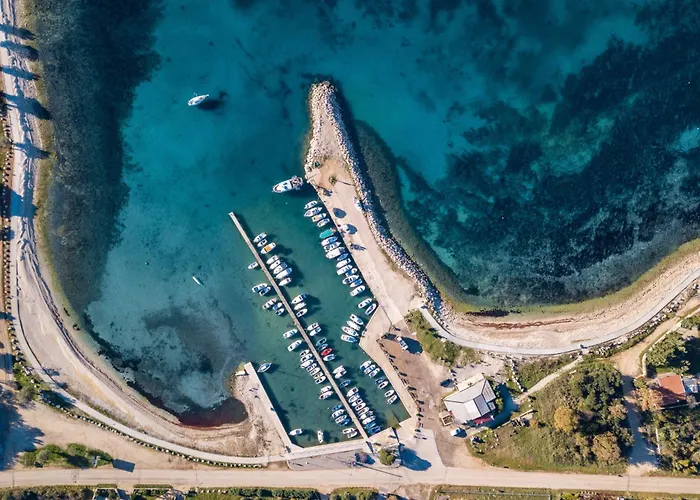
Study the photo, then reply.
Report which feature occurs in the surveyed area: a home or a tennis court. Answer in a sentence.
The image shows a home.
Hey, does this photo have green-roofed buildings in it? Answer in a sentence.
No, the frame has no green-roofed building in it.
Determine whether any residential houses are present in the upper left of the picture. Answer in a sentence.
No, the scene shows no residential house in the upper left of the picture.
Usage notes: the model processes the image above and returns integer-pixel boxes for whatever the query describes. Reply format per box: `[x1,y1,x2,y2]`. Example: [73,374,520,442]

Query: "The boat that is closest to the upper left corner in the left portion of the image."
[188,90,209,107]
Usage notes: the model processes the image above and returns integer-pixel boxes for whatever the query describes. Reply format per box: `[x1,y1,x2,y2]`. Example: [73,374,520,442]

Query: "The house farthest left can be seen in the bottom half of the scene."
[443,371,496,424]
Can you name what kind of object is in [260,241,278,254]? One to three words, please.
boat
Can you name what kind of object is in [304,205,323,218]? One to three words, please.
boat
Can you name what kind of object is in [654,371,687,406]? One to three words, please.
house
